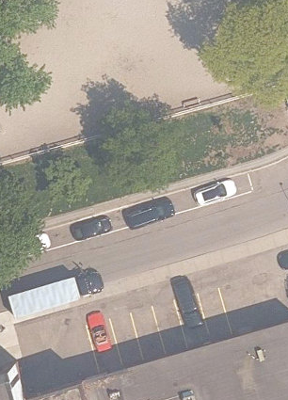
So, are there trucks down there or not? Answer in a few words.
Yes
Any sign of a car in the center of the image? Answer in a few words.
Yes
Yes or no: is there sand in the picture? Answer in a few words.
Yes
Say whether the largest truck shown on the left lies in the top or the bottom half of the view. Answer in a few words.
bottom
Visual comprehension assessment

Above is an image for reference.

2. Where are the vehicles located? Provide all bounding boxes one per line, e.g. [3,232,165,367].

[68,215,113,241]
[276,250,288,269]
[121,198,175,228]
[8,273,103,321]
[172,274,201,328]
[192,179,238,205]
[86,310,110,353]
